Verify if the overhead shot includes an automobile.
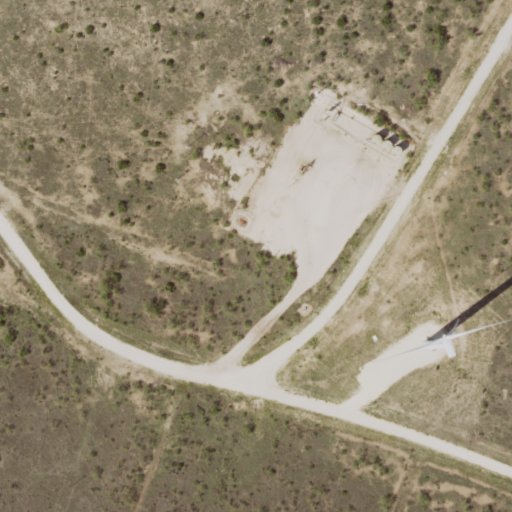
No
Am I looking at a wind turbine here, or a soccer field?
wind turbine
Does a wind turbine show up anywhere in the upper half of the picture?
No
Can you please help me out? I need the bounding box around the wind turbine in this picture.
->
[367,317,508,364]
